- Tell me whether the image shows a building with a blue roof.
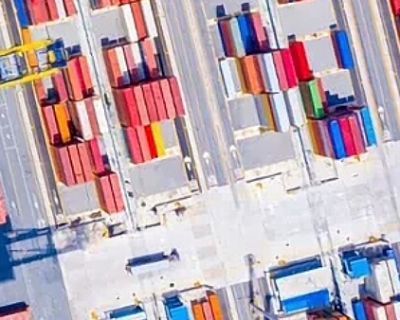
Yes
